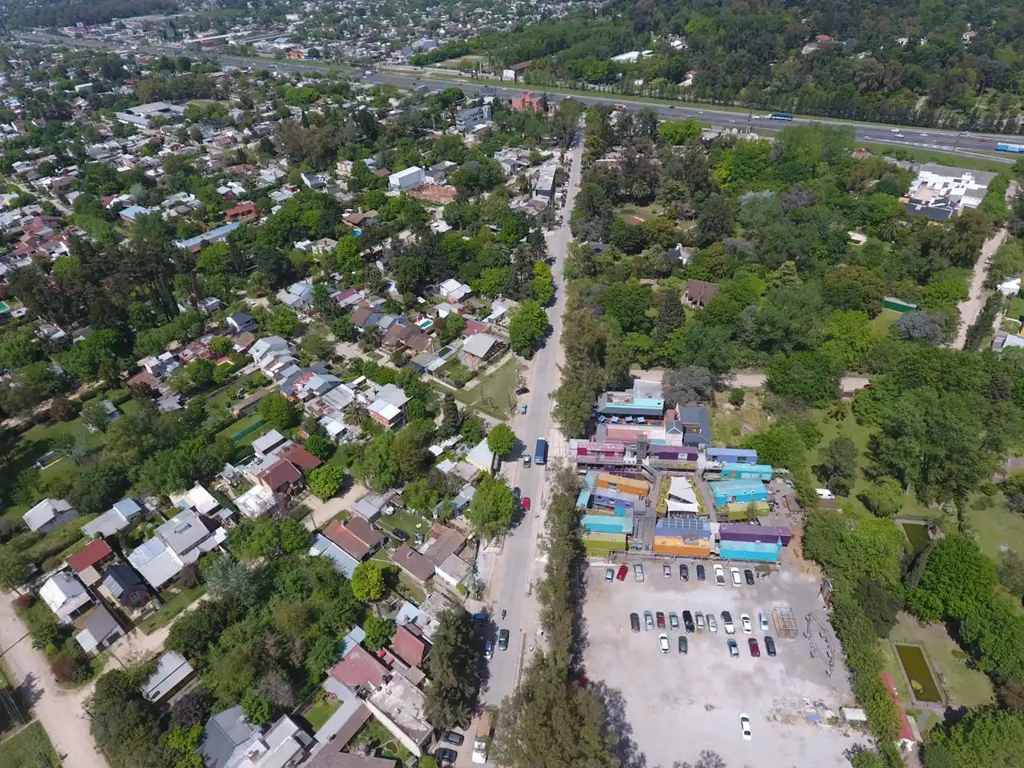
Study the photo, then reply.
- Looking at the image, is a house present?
Yes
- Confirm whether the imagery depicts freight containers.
Yes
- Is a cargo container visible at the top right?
No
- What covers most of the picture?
trees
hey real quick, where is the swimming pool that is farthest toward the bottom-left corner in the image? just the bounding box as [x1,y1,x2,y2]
[35,449,63,469]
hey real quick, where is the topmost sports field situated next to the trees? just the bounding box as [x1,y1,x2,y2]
[432,56,490,74]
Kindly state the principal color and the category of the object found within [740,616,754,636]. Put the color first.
white car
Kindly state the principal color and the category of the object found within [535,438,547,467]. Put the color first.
blue vehicle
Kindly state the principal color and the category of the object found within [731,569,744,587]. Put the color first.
white vehicle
